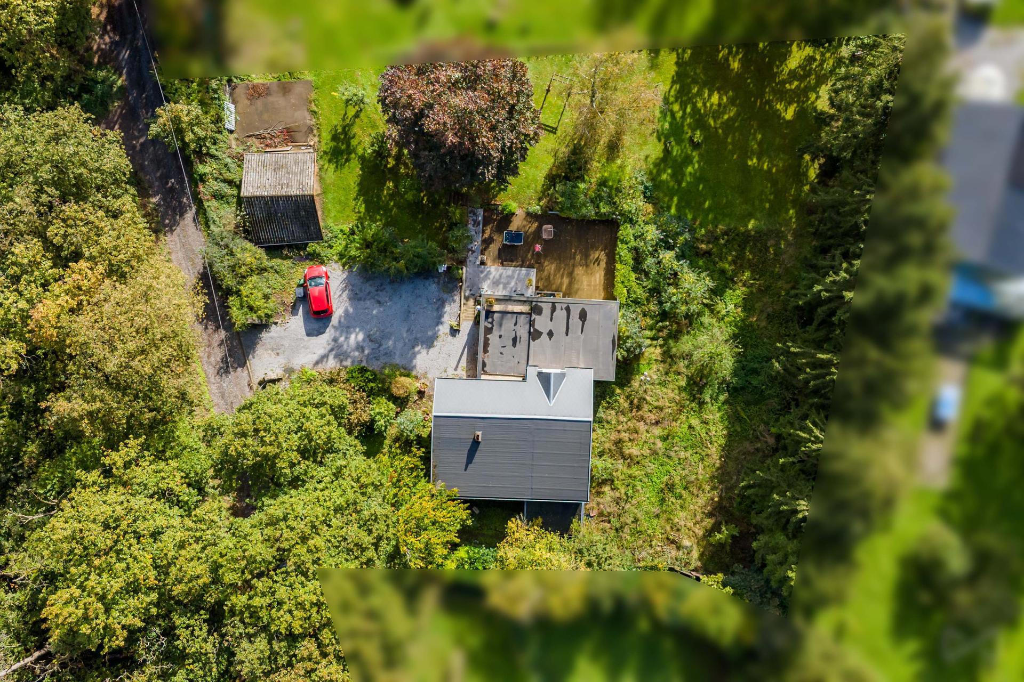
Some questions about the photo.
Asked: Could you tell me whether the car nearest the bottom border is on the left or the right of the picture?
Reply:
right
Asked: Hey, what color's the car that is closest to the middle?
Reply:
red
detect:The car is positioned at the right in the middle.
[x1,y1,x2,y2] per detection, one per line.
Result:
[929,377,966,432]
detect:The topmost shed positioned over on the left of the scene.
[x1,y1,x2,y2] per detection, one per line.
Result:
[240,151,325,246]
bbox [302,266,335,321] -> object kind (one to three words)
car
